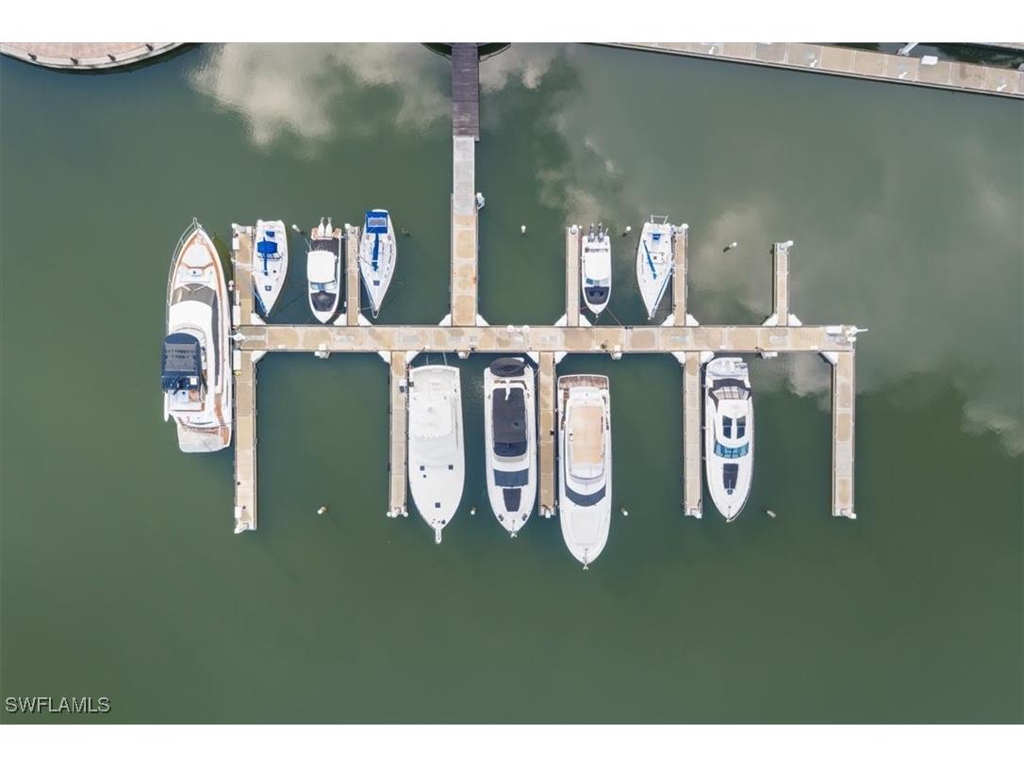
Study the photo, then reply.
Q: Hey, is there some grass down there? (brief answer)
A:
No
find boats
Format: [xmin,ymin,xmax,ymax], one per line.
[408,364,465,543]
[558,375,613,572]
[637,214,674,321]
[581,221,611,319]
[484,364,537,540]
[234,219,288,318]
[357,209,397,318]
[308,213,342,323]
[161,218,235,453]
[490,357,526,377]
[707,356,747,377]
[704,359,756,522]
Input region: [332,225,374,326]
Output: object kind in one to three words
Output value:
pier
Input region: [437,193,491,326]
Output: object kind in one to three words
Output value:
pier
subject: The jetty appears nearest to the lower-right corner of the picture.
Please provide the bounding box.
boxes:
[818,352,855,516]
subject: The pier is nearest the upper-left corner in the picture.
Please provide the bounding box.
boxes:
[233,224,269,326]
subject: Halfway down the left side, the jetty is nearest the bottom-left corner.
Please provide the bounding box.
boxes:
[235,352,271,531]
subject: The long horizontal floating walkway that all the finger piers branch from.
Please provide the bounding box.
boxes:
[235,326,854,352]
